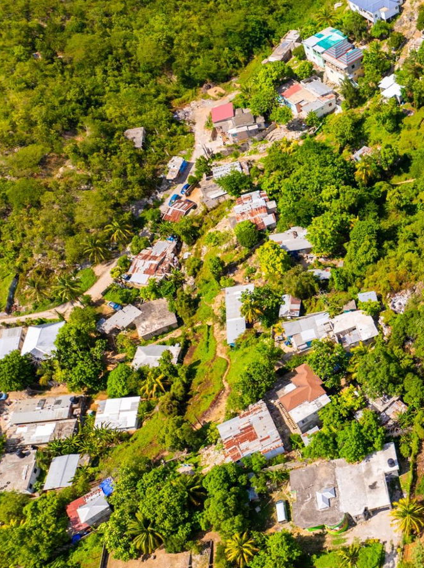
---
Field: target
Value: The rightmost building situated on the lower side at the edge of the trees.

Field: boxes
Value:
[372,396,409,422]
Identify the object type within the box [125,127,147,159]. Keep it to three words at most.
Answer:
shed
